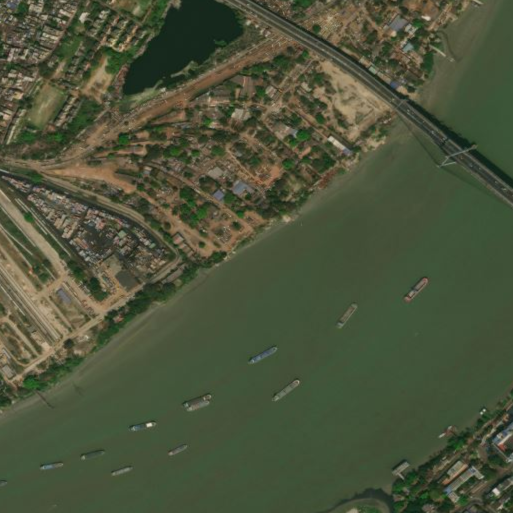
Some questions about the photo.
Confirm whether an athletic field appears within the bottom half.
No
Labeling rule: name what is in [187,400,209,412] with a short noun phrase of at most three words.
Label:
ship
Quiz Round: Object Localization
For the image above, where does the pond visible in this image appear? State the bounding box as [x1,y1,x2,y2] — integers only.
[123,0,243,96]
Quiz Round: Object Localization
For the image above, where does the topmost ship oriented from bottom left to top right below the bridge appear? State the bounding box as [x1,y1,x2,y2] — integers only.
[405,278,427,302]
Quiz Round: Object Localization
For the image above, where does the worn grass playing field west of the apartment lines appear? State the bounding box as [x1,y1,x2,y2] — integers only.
[29,82,65,128]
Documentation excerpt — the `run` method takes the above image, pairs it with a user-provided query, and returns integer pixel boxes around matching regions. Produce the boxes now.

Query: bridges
[227,0,513,211]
